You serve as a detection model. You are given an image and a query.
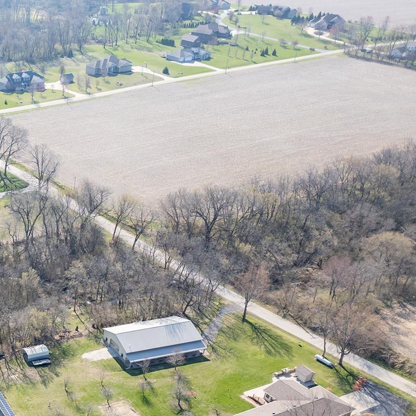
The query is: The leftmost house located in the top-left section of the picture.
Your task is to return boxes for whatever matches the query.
[0,69,48,91]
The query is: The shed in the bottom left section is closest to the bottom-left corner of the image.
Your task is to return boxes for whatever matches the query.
[23,345,51,362]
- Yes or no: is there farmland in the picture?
Yes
